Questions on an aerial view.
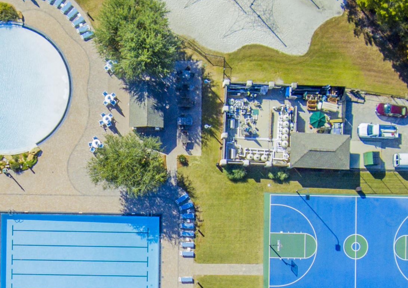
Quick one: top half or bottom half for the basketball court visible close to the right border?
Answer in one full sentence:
The basketball court visible close to the right border is in the bottom half of the image.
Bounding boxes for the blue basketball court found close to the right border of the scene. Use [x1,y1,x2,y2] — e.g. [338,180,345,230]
[263,192,408,288]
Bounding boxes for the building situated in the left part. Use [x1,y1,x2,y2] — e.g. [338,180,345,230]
[131,78,163,131]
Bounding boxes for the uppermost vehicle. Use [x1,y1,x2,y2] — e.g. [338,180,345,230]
[376,101,408,118]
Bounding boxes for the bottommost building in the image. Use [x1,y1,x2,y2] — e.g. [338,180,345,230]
[290,133,350,168]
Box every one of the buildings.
[131,78,163,131]
[290,133,350,168]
